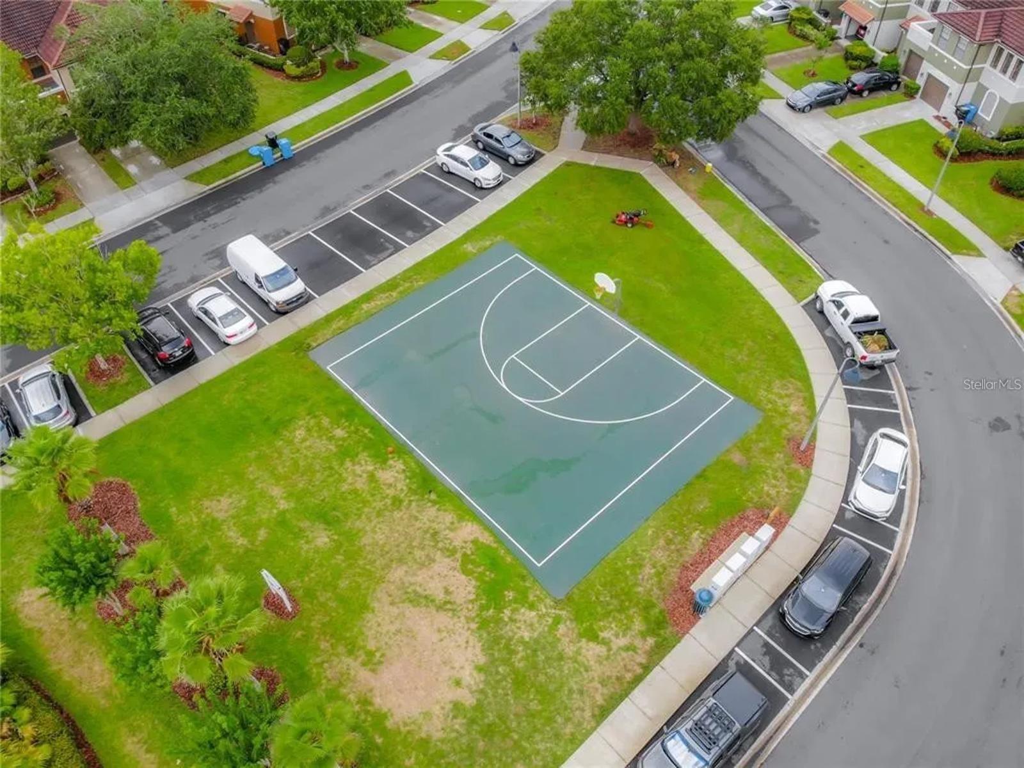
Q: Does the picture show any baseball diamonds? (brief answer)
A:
No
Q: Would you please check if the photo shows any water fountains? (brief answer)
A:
No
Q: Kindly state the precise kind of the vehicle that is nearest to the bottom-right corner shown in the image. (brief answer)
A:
car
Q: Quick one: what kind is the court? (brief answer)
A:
basketball court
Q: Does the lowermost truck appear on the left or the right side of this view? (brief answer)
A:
right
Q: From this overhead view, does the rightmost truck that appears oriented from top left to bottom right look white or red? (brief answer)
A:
white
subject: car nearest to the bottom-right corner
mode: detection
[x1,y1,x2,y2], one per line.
[781,538,875,645]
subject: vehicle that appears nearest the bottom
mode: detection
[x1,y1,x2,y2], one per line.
[633,664,774,768]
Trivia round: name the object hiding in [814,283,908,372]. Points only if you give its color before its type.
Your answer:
white truck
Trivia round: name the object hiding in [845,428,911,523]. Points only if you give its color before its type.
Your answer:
white car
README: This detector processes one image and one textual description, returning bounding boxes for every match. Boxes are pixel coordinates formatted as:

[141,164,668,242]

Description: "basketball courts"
[308,241,763,598]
